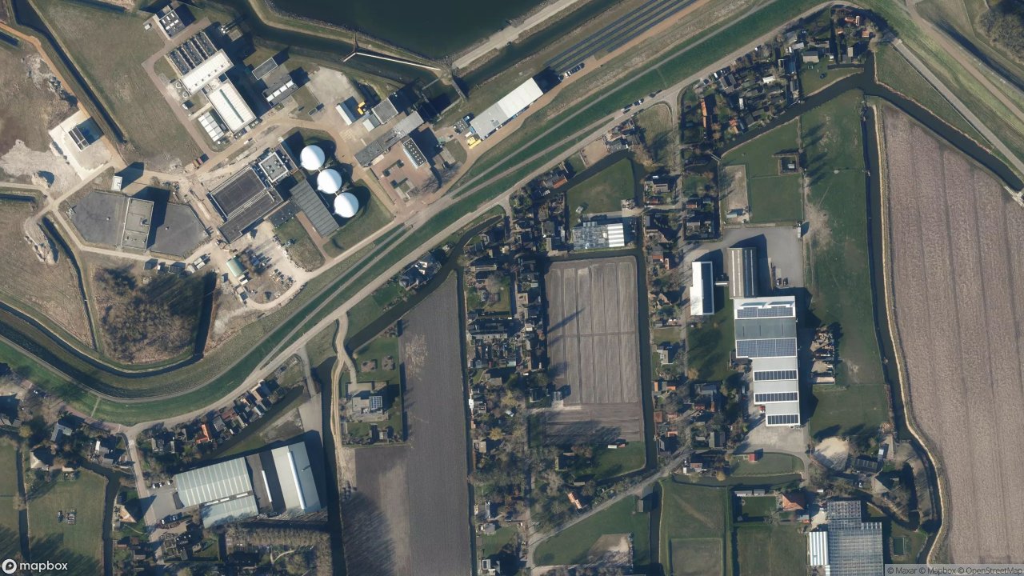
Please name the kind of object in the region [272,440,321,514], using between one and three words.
building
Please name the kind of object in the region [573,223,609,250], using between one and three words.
greenhouse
